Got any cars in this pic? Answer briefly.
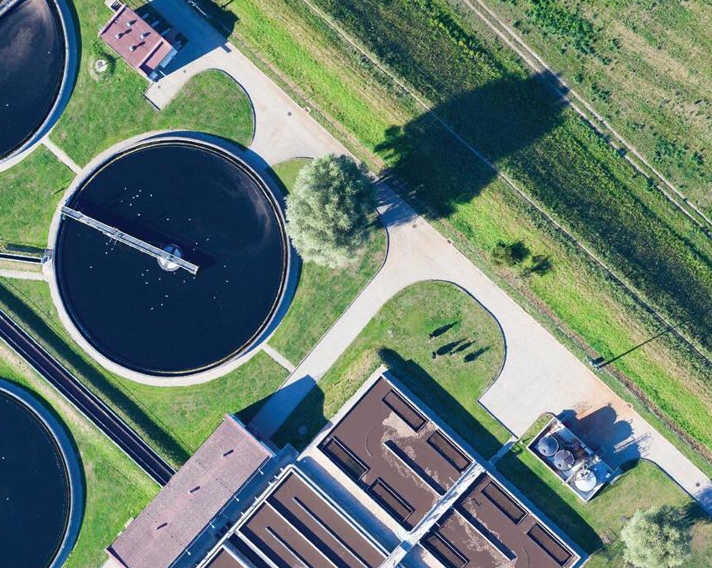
No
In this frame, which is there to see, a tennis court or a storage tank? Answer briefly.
storage tank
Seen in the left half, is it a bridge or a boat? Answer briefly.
bridge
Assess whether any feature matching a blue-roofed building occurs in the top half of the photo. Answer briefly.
No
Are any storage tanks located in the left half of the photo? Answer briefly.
Yes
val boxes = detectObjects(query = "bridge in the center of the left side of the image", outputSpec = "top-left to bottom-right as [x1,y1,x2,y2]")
[61,205,200,272]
